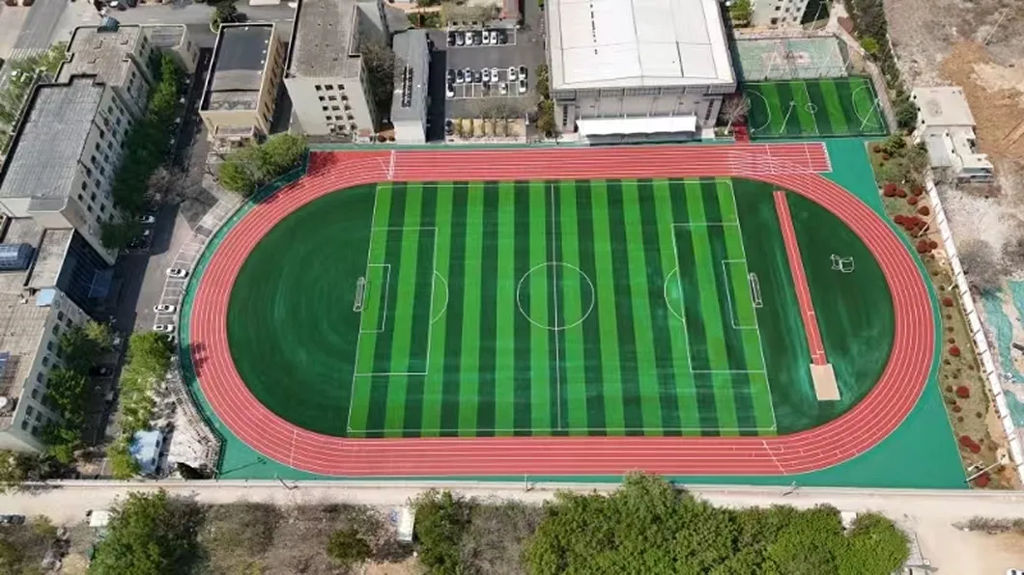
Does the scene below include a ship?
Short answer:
No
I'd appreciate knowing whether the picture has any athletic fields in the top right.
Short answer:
Yes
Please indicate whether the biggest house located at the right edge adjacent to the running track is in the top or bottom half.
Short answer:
top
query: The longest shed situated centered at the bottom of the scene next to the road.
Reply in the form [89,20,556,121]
[397,508,415,544]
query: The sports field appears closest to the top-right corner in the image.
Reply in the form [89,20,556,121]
[741,78,888,136]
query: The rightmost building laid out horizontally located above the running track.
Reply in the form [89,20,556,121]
[746,0,810,29]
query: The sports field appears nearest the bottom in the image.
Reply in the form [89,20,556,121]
[228,176,894,438]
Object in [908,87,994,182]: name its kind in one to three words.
house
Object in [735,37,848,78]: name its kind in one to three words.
sports court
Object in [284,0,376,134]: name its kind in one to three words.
building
